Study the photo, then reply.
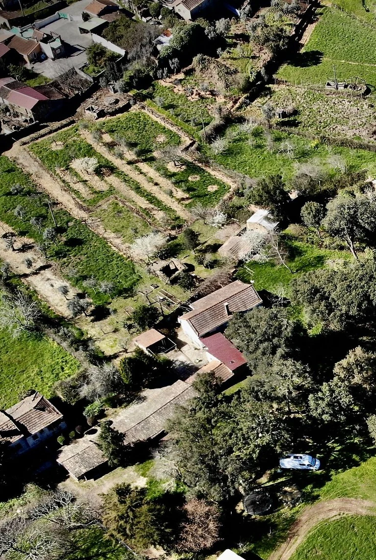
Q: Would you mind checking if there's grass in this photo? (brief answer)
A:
Yes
